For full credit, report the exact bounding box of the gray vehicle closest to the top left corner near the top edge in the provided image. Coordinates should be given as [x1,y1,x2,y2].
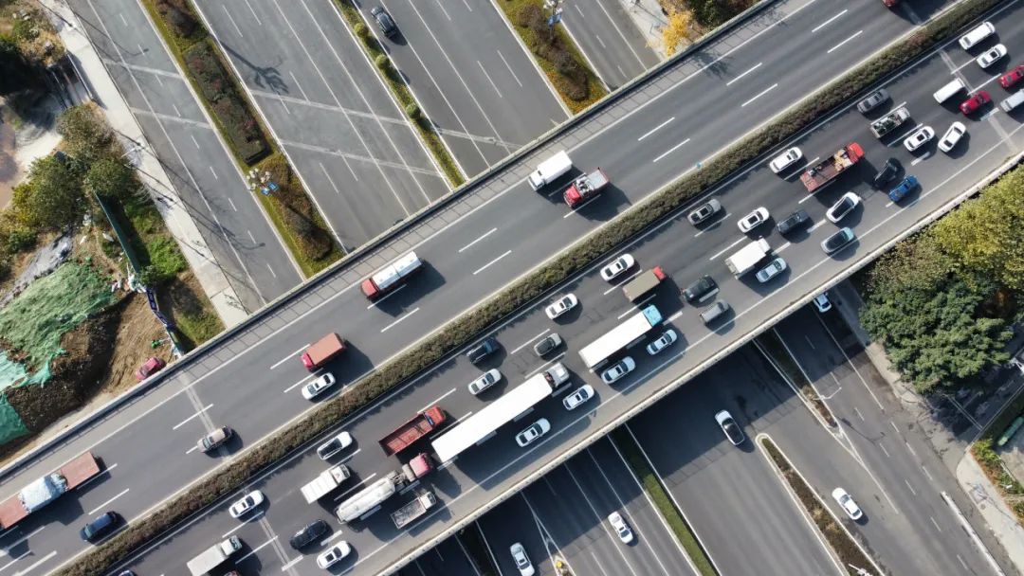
[372,7,394,37]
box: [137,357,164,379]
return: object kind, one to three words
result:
car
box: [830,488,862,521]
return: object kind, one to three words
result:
car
